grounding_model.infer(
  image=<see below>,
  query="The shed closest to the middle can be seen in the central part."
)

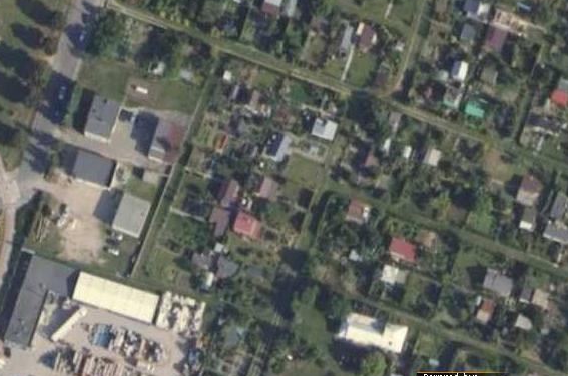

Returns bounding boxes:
[257,175,281,199]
